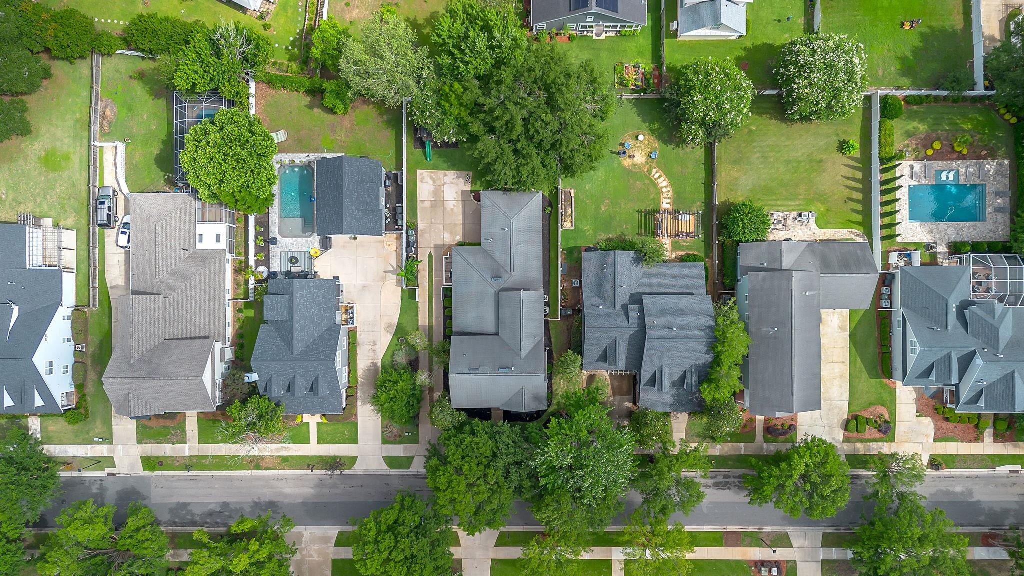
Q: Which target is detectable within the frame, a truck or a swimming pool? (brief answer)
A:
swimming pool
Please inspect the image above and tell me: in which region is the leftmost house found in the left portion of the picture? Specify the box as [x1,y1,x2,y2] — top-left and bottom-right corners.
[0,223,82,417]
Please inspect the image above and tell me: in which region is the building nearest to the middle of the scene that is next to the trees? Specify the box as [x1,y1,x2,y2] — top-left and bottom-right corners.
[443,191,547,412]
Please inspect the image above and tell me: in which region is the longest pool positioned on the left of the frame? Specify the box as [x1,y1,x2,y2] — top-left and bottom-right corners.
[278,163,315,237]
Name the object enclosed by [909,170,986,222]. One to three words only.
swimming pool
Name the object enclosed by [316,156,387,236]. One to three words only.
building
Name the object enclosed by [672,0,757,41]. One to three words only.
building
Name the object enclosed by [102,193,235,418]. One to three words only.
house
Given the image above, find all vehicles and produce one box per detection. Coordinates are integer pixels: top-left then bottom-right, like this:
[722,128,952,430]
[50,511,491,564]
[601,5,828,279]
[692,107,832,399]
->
[113,210,130,249]
[94,186,117,227]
